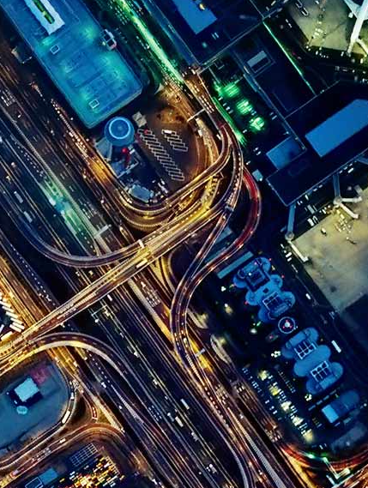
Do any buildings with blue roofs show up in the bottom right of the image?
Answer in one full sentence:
Yes, a building with a blue roof appears in the bottom right of the image.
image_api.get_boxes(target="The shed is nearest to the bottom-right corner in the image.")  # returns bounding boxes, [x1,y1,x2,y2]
[332,423,368,450]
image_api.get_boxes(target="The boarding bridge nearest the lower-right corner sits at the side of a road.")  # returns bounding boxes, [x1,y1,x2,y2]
[290,239,311,265]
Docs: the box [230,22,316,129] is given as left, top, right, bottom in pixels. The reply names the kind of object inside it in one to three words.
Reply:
building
